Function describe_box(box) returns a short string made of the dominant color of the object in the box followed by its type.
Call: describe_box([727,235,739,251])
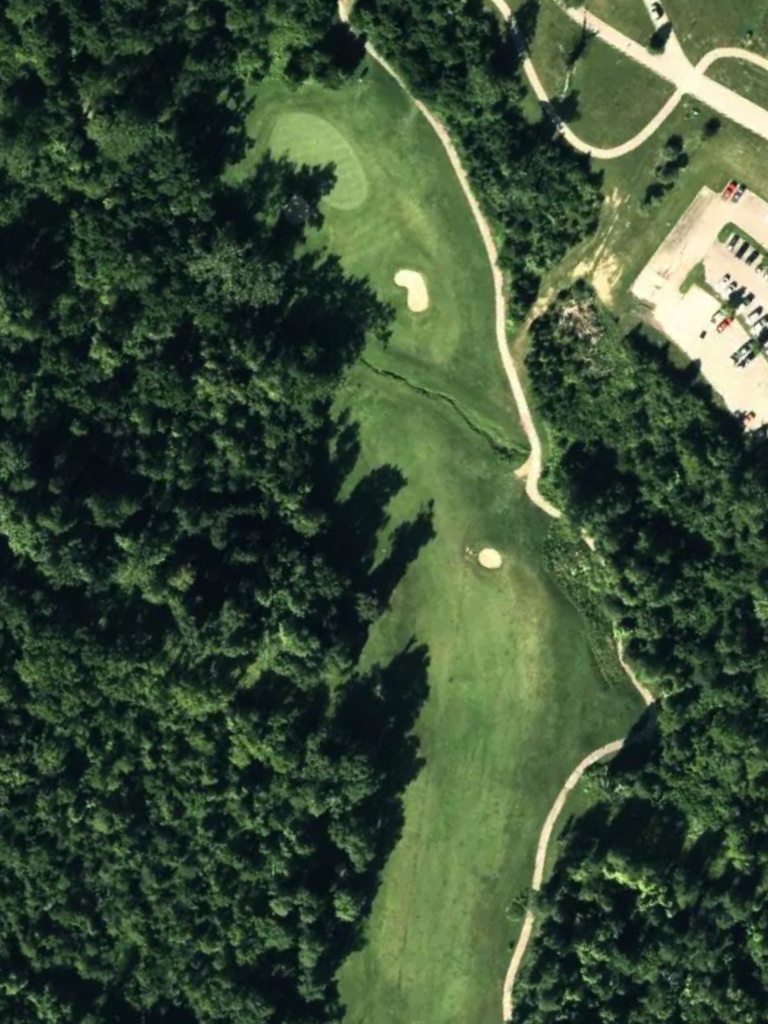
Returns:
gray vehicle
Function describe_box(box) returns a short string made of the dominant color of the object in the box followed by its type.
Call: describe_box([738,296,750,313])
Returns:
white vehicle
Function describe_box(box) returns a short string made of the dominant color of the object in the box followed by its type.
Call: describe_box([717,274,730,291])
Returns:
white vehicle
